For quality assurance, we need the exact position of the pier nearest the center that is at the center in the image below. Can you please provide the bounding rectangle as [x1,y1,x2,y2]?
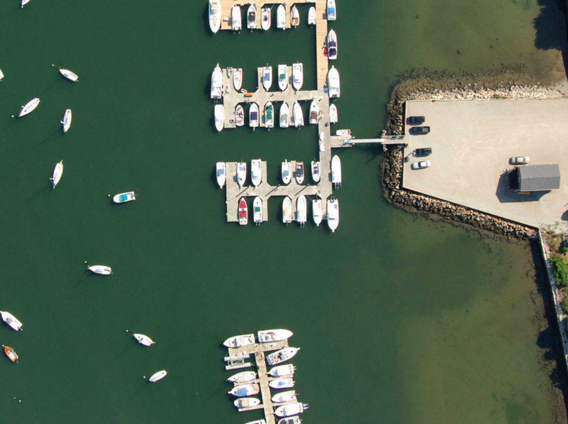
[225,161,317,222]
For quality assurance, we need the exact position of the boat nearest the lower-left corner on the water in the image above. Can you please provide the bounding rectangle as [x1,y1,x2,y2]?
[4,346,19,364]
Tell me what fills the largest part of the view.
water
